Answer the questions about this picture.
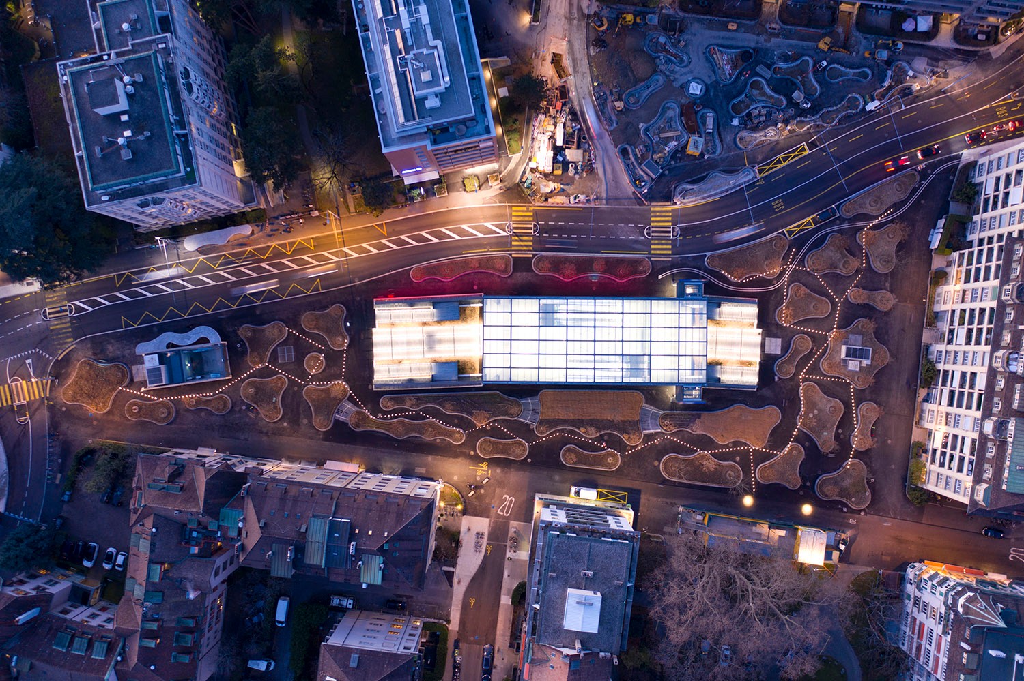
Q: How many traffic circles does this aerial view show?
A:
none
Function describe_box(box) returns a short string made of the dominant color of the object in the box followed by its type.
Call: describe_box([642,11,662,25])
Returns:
blue vehicle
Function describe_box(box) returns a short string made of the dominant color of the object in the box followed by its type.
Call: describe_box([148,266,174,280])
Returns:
white car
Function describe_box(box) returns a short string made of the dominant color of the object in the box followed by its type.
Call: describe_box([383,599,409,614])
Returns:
black car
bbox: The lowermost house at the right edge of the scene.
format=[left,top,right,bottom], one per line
[895,559,1024,681]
